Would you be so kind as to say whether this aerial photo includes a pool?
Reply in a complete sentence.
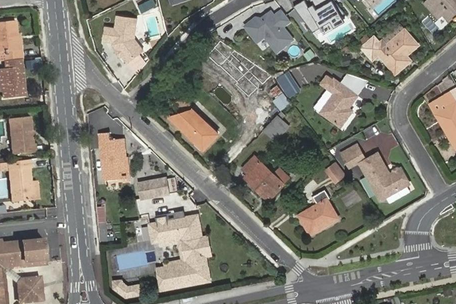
Yes, there is a pool in the image.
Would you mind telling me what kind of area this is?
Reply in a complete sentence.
It's a residential area.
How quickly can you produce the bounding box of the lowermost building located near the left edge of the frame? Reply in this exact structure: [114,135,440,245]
[16,275,44,304]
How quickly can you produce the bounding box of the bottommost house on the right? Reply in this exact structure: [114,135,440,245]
[296,198,341,238]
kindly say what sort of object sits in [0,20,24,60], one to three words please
house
